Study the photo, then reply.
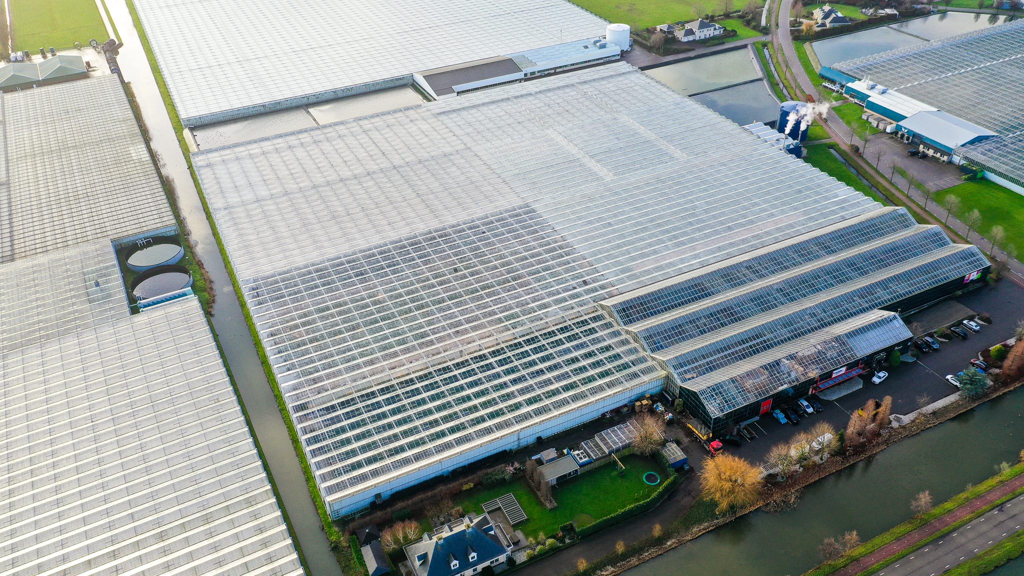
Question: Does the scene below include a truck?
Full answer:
Yes, you can see a truck in this photo.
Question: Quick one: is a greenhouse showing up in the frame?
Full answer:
Yes, there's a greenhouse down there.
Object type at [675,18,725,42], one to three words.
house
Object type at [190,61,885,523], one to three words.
greenhouse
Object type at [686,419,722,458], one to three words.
truck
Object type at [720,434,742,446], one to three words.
vehicle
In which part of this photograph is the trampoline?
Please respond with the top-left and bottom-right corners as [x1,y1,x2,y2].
[642,472,660,486]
